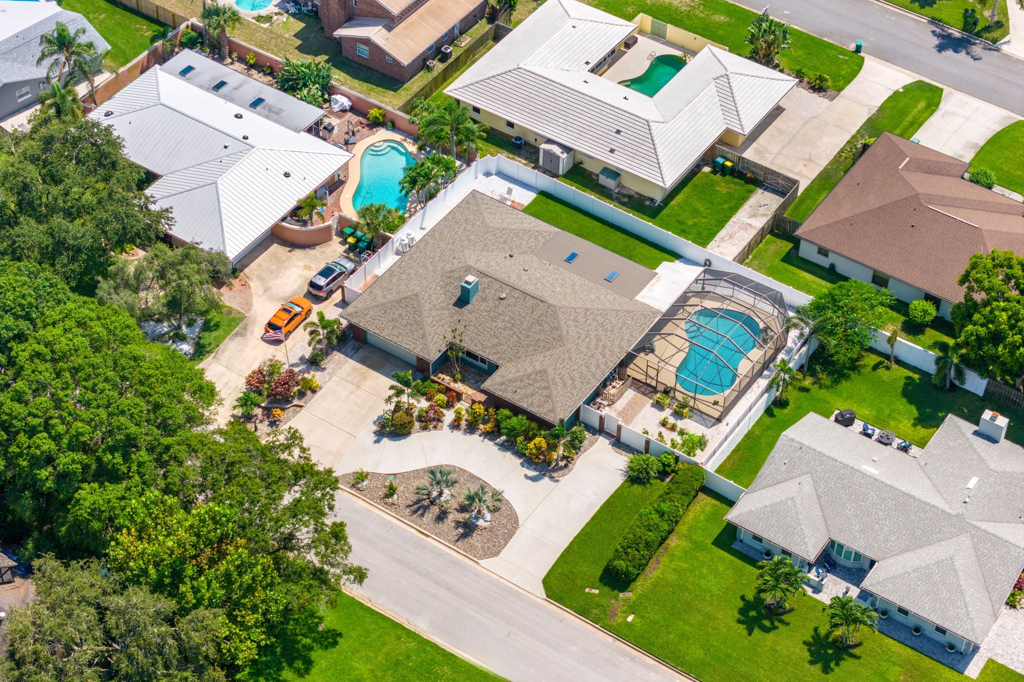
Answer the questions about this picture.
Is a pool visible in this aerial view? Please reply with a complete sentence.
Yes, the photo shows a pool.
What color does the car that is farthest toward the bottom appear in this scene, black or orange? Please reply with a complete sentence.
The car that is farthest toward the bottom is orange.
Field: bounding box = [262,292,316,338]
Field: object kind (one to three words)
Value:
car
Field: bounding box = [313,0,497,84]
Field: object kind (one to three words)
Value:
house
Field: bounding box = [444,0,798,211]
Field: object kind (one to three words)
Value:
house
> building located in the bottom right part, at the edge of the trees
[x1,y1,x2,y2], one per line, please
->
[723,409,1024,659]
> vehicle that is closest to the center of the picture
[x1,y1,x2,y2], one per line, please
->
[305,251,359,297]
